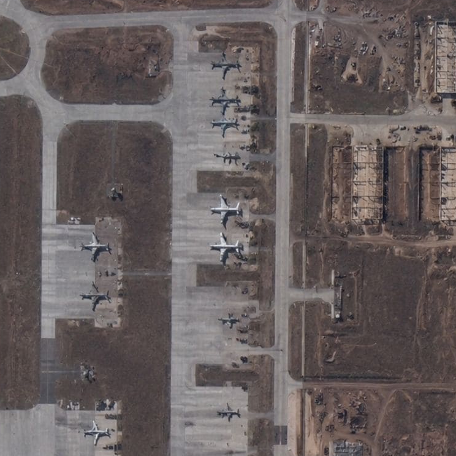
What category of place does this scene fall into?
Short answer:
airport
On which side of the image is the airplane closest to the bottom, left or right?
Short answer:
left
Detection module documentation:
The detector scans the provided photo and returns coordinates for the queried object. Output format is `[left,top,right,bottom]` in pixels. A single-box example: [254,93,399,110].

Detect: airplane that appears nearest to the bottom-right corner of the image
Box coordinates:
[217,404,240,423]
